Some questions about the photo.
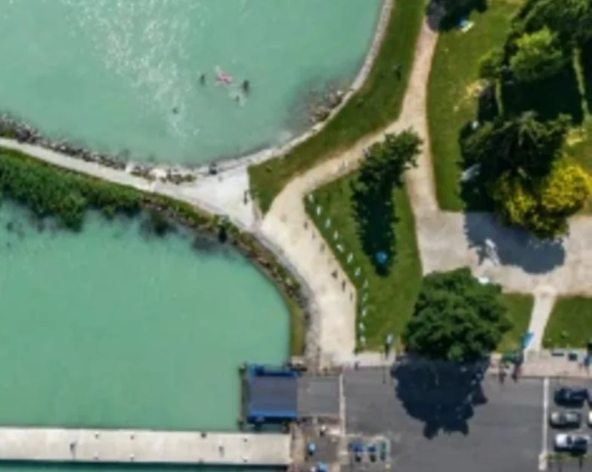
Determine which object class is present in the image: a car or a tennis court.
car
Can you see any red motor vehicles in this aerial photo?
No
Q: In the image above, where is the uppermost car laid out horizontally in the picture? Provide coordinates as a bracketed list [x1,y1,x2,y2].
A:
[552,387,588,405]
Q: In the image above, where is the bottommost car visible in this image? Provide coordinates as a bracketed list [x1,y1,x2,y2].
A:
[552,434,588,452]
